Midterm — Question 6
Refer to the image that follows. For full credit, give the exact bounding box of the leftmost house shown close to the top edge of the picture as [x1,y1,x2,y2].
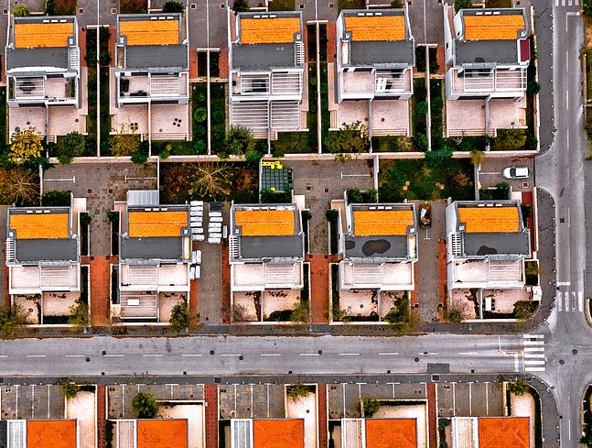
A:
[6,17,85,141]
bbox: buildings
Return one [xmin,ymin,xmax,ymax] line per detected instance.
[5,419,78,448]
[5,207,80,319]
[114,418,187,448]
[448,9,528,135]
[329,10,412,136]
[228,204,301,317]
[336,417,416,448]
[445,417,529,448]
[119,205,191,318]
[339,203,415,316]
[230,12,307,135]
[447,200,524,313]
[6,17,85,141]
[226,418,304,448]
[108,15,188,141]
